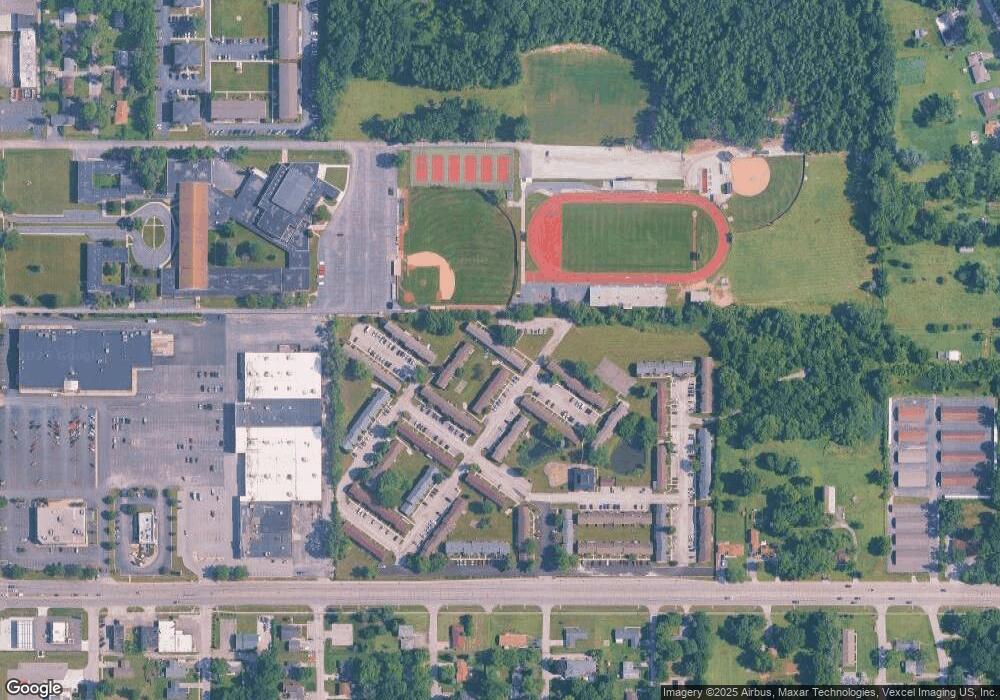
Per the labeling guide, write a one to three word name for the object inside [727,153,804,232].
baseball field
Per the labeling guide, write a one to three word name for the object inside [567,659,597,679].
house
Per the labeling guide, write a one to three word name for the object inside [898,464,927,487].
building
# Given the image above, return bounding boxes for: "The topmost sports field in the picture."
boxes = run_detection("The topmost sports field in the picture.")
[525,49,650,144]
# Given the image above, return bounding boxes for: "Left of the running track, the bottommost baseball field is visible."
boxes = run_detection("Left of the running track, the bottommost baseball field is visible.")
[402,189,517,306]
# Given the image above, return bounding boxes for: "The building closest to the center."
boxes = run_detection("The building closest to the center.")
[466,323,527,370]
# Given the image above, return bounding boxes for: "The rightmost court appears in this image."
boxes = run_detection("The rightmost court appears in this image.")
[595,357,636,394]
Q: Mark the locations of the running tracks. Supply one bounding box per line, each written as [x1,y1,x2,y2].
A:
[525,192,729,284]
